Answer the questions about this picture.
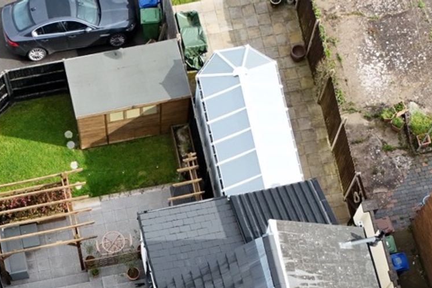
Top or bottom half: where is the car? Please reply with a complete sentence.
You can find the car in the top half.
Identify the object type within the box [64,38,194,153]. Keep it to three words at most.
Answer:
shed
